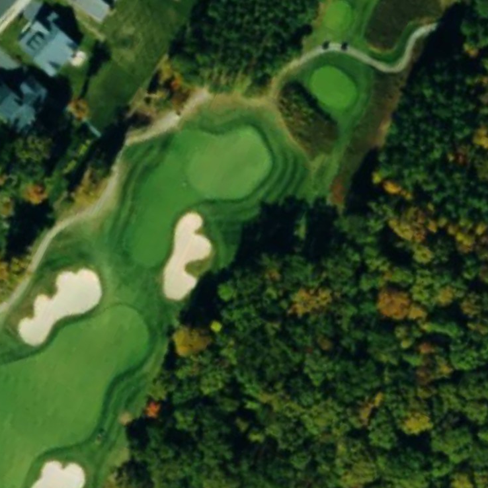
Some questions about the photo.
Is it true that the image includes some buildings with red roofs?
No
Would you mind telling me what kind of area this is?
golf course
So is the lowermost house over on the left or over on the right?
left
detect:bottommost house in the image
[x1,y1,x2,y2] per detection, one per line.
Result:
[0,70,48,130]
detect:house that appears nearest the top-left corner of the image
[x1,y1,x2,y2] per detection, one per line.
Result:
[18,6,85,74]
